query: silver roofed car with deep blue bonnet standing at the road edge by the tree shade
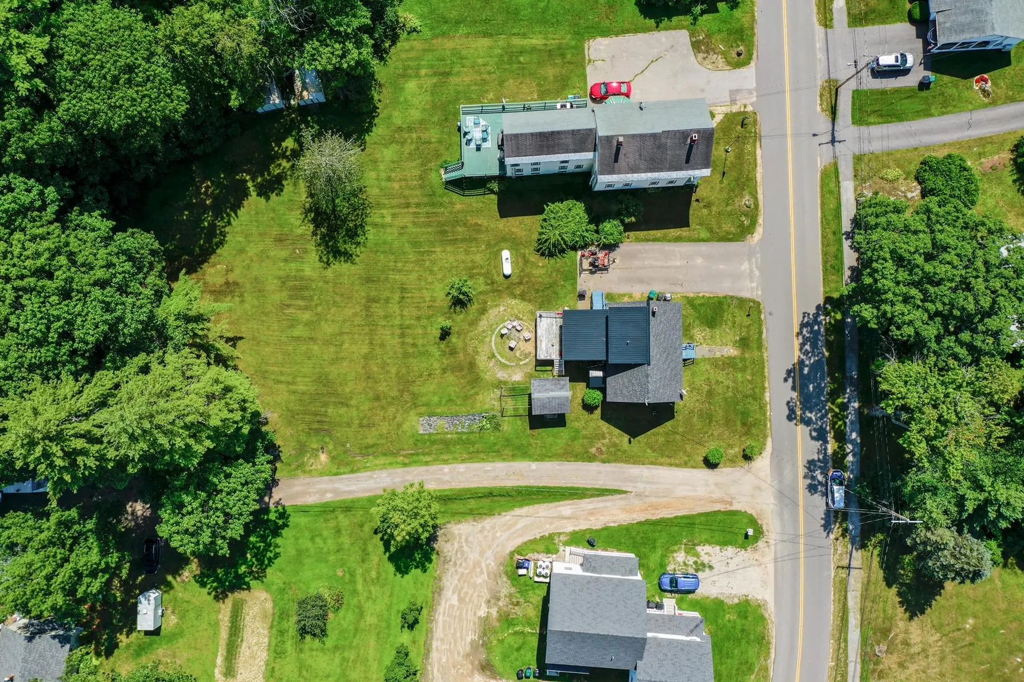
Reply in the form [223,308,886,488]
[824,468,847,510]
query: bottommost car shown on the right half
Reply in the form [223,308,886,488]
[657,573,699,595]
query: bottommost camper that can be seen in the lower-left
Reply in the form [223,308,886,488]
[137,576,166,630]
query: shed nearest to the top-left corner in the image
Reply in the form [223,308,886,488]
[259,83,290,115]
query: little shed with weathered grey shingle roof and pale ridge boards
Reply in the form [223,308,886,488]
[530,377,571,420]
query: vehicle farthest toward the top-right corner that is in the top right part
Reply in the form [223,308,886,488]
[868,53,912,76]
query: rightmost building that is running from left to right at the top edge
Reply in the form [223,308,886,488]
[912,0,1023,52]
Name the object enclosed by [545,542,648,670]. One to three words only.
house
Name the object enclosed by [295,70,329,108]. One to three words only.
shed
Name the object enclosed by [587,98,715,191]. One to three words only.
house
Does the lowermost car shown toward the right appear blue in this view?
Yes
